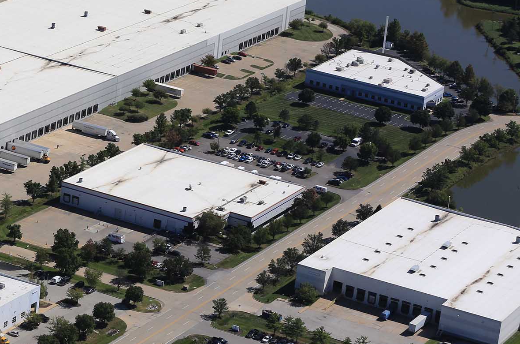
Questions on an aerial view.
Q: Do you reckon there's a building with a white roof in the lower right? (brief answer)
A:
Yes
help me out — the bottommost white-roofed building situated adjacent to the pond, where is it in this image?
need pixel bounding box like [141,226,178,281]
[294,196,520,344]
